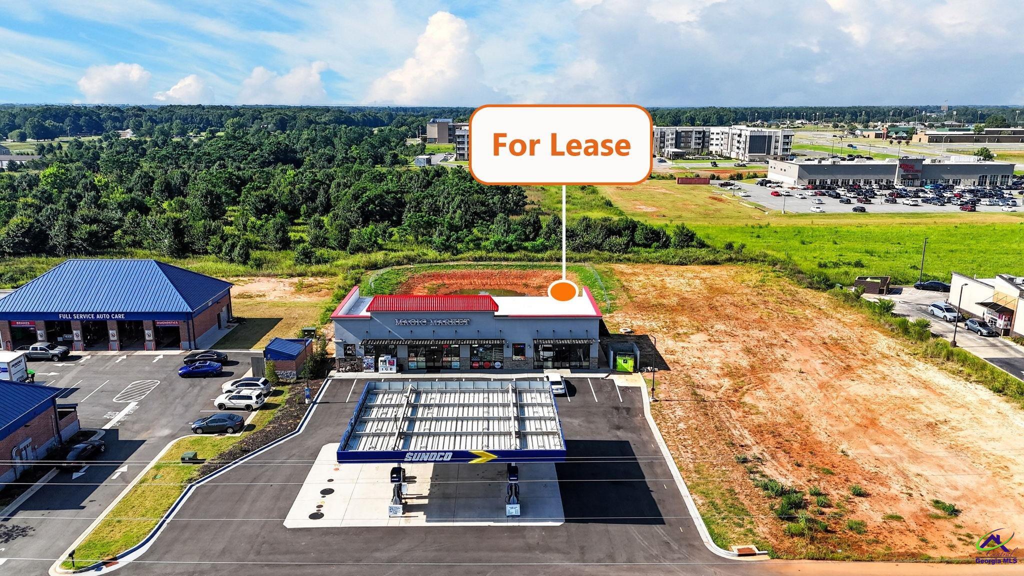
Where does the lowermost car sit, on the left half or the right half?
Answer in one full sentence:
The lowermost car is on the left side of the image.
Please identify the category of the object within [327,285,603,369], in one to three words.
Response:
building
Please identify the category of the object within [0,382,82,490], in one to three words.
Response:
building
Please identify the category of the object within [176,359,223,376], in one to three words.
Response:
car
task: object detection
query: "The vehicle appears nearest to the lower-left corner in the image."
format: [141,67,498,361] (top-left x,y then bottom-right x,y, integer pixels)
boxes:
[46,438,111,471]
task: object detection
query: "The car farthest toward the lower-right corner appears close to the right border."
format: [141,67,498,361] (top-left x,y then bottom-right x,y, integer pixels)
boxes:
[959,316,1001,334]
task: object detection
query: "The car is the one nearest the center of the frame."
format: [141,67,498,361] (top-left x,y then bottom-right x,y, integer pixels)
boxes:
[544,374,565,395]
